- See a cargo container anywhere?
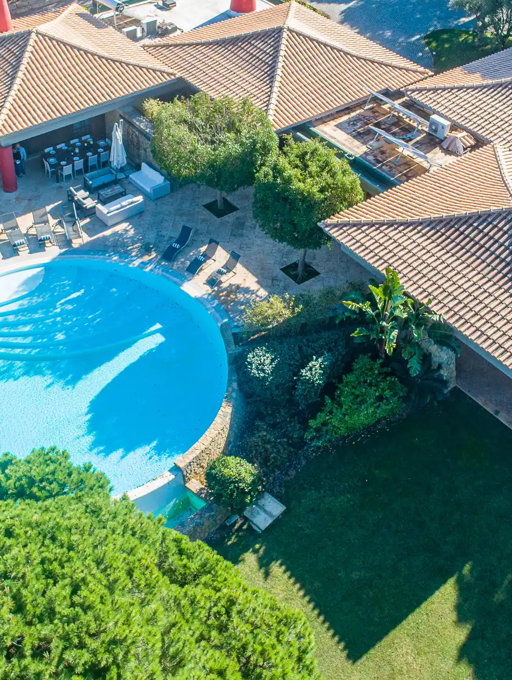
No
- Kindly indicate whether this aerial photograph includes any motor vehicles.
No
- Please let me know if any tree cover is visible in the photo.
Yes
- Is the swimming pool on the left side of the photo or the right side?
left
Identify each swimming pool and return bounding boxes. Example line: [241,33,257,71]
[0,253,240,578]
